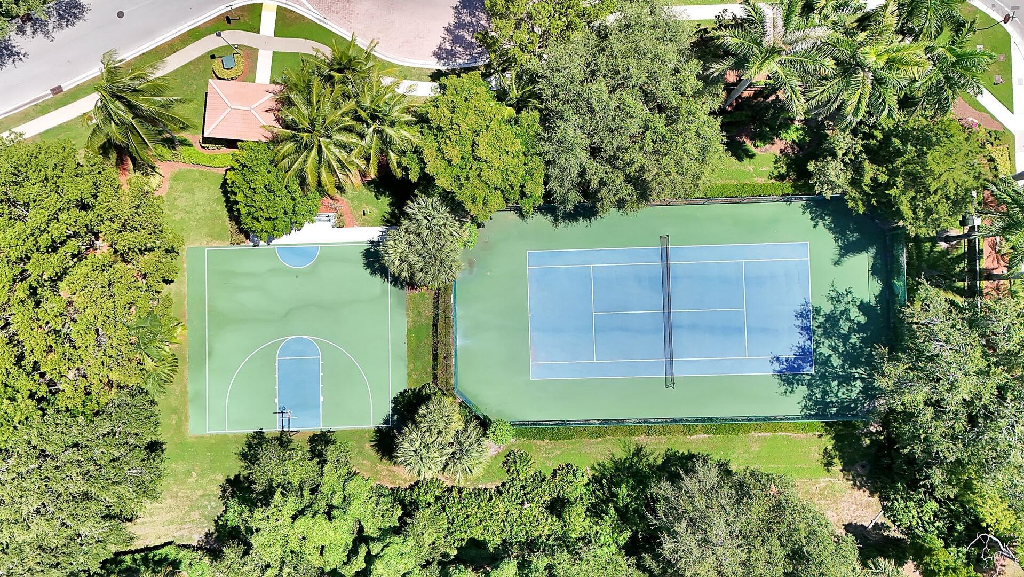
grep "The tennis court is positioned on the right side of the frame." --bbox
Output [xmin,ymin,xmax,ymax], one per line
[454,201,886,423]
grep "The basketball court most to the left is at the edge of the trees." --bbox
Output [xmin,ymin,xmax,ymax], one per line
[184,239,408,435]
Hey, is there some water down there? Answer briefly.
No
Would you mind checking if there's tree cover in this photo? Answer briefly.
Yes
